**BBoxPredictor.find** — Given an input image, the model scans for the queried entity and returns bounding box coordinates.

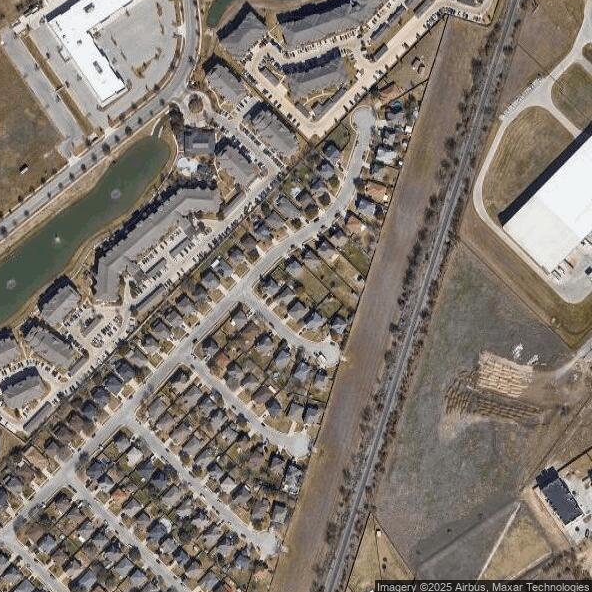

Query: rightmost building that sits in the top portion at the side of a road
[503,142,592,274]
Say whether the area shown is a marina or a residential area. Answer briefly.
residential area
